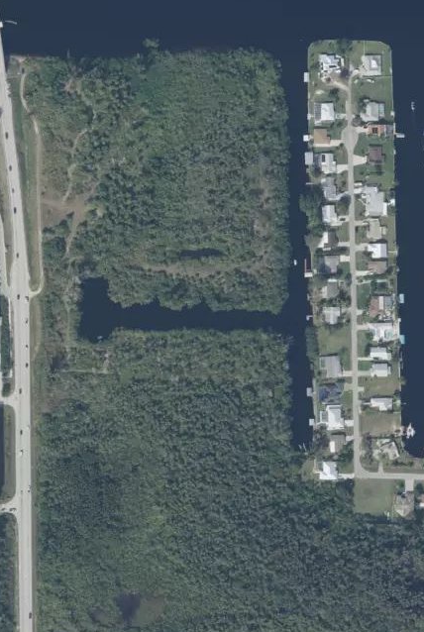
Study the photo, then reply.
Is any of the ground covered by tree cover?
Yes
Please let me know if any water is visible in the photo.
Yes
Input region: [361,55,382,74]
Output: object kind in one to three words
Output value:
house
